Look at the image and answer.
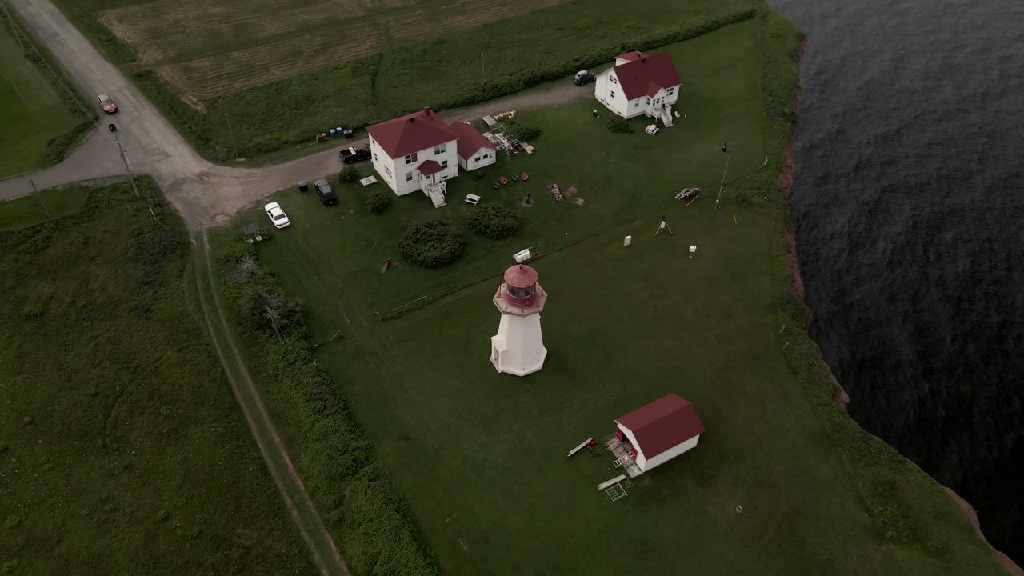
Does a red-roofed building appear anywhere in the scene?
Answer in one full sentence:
Yes, the image includes a red-roofed building.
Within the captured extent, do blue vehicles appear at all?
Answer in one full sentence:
No, I find no blue vehicle anywhere in the image.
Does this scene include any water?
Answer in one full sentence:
Yes, some water is visible.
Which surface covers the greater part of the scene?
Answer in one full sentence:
For the most part, this view shows grass.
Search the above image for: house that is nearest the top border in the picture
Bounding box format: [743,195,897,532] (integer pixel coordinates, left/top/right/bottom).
[592,50,682,126]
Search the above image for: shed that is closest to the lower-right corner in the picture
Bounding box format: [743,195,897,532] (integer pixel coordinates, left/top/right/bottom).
[599,398,703,479]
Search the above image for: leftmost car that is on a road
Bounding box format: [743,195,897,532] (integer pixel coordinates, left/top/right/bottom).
[96,91,116,110]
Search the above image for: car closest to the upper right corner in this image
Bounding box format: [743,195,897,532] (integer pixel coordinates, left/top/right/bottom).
[573,71,596,86]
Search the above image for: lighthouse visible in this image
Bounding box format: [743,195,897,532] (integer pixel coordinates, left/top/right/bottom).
[486,262,548,377]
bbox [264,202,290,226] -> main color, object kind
white car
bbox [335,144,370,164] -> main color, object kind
black vehicle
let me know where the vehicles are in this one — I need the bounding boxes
[96,91,116,110]
[312,181,336,202]
[335,144,370,164]
[573,71,596,86]
[264,202,290,226]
